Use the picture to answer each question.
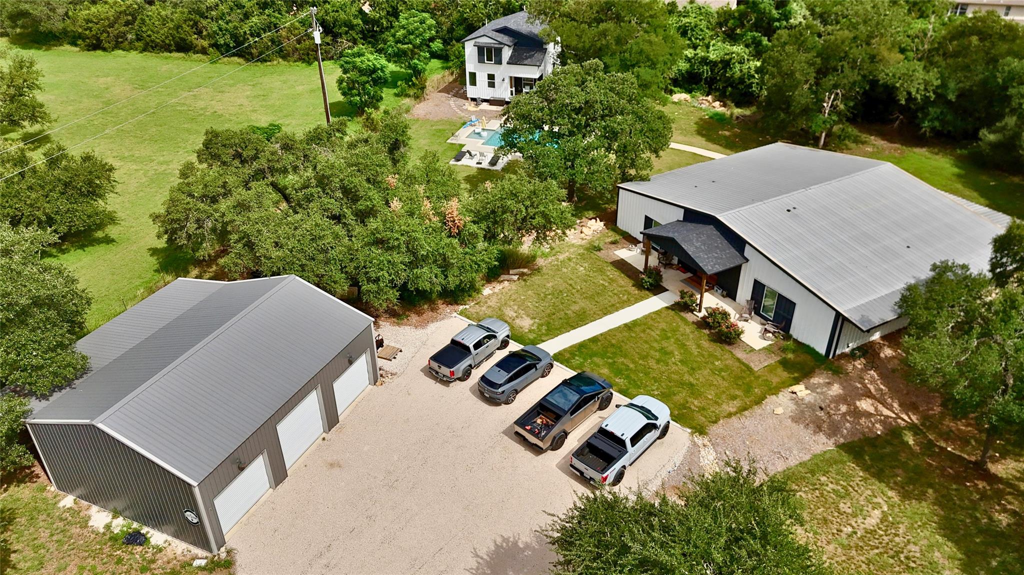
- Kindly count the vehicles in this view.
four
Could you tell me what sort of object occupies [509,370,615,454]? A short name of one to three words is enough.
truck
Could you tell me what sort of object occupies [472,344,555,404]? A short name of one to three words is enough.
car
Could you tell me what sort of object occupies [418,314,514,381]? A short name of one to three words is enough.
truck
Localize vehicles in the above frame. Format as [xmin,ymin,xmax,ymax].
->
[472,344,555,404]
[564,394,676,489]
[418,314,514,381]
[509,370,615,454]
